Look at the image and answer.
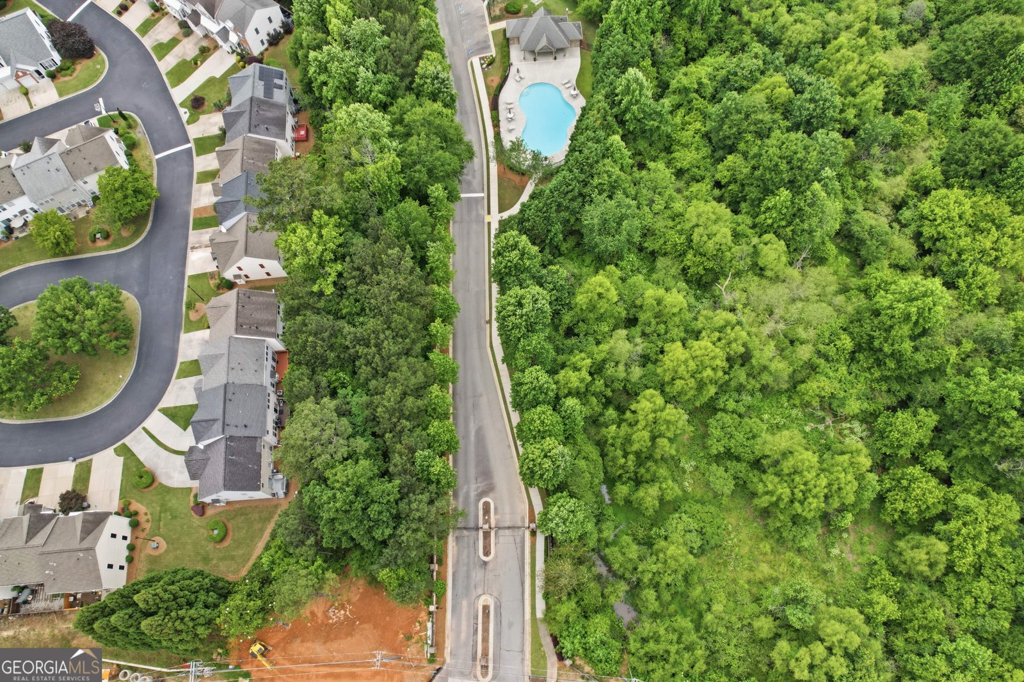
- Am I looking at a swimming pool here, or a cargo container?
swimming pool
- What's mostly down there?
trees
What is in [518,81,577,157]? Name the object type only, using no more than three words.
swimming pool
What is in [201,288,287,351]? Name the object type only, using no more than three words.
house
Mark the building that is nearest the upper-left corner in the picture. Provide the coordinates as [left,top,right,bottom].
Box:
[0,6,61,98]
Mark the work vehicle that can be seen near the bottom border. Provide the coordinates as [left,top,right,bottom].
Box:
[253,638,277,673]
